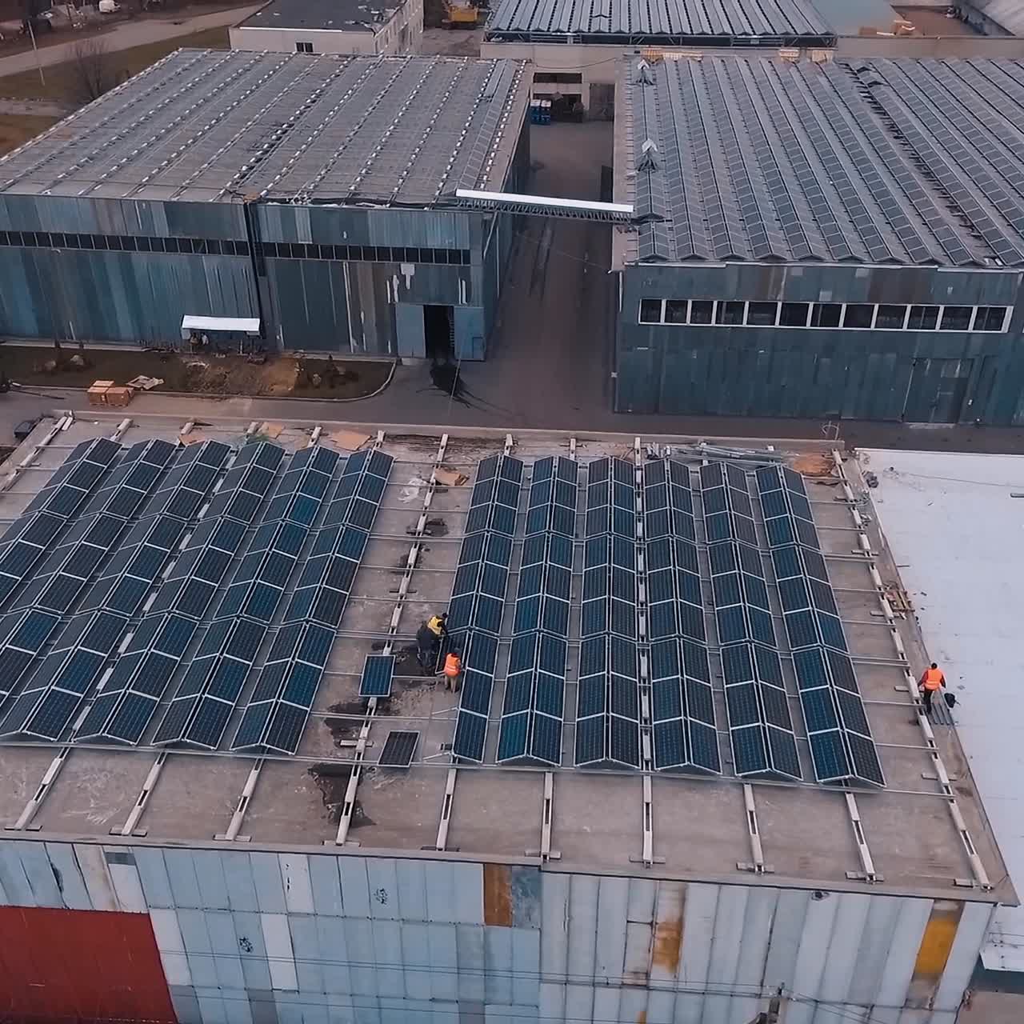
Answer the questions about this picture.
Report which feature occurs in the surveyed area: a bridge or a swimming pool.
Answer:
bridge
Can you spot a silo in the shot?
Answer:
No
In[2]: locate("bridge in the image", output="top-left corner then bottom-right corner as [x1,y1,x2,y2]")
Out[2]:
[453,188,636,238]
